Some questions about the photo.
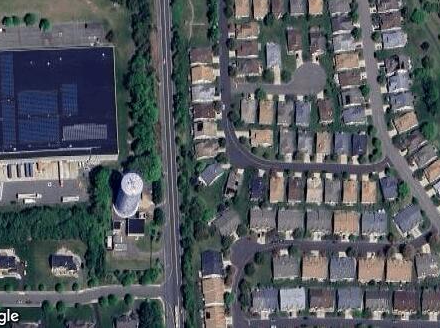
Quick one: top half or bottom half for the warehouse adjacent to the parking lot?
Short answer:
top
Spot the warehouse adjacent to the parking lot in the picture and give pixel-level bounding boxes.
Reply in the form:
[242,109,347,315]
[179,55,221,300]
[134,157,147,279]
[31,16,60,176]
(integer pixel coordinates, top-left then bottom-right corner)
[0,46,118,163]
